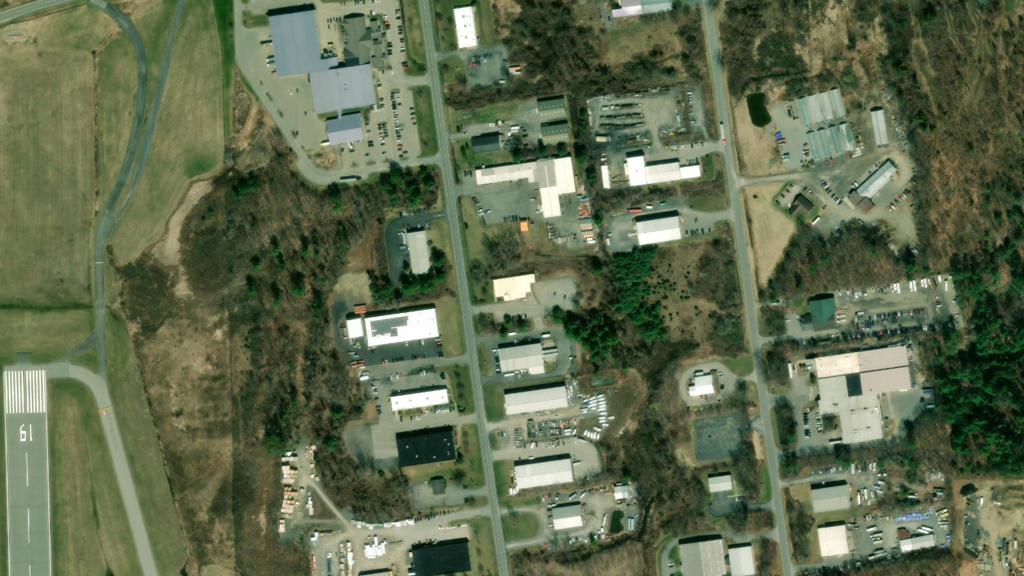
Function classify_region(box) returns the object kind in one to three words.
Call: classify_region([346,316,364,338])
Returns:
shed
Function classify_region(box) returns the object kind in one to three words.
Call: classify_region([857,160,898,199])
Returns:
barn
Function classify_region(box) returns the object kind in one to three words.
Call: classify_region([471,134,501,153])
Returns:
house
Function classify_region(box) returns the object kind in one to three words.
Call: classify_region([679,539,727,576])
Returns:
building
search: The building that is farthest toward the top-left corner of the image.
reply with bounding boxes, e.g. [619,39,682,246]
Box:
[268,8,338,75]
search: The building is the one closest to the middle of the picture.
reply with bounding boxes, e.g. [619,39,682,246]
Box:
[493,274,536,301]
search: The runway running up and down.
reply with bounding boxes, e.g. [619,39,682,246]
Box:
[3,370,51,576]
